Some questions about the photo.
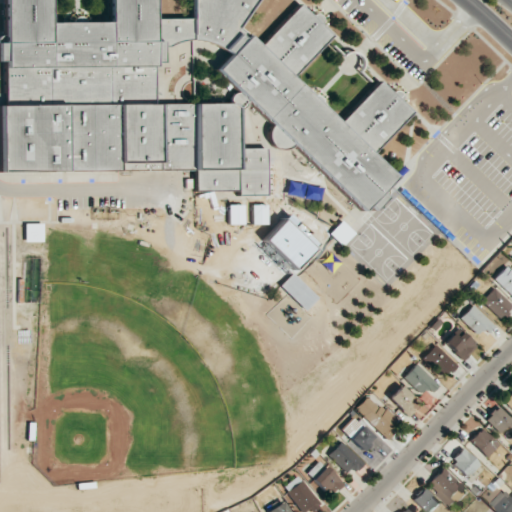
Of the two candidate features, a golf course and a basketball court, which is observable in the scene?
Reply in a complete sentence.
The image shows a basketball court.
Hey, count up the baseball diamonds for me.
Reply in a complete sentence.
Altogether the scene contains 1 baseball diamond.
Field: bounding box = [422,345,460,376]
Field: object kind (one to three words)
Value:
house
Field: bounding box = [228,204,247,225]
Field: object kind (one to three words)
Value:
building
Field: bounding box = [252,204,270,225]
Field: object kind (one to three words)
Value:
building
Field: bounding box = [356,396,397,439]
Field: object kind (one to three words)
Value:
house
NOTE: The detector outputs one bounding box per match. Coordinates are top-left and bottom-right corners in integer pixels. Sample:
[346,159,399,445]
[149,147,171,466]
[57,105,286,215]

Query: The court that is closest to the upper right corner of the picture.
[375,198,434,255]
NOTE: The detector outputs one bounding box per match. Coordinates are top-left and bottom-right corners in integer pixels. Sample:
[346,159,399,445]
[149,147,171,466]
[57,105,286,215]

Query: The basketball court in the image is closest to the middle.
[350,224,409,280]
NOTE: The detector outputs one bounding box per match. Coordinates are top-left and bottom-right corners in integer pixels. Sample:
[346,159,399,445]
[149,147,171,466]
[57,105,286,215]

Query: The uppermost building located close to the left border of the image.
[0,0,196,102]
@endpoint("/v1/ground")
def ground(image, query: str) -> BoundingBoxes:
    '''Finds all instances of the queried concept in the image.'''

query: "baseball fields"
[33,223,293,485]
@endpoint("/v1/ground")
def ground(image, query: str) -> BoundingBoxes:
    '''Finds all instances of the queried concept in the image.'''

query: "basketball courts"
[375,198,434,255]
[350,224,409,280]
